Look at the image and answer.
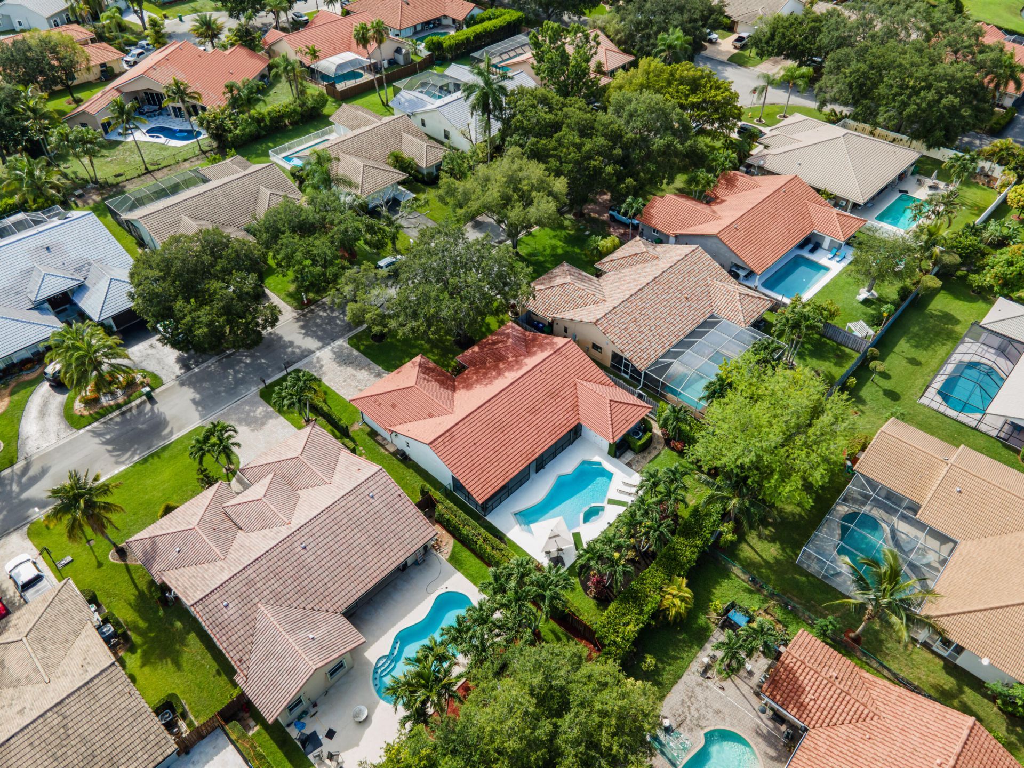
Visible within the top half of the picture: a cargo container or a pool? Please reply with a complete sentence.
It is a pool that can be seen within the top half of the picture.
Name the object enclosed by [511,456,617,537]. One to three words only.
swimming pool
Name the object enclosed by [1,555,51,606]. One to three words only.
truck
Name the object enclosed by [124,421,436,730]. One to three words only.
house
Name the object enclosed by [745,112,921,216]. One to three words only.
house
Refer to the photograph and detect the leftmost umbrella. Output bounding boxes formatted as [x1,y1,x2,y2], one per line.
[530,517,573,572]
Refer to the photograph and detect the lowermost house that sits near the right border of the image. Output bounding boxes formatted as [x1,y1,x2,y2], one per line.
[758,628,1024,768]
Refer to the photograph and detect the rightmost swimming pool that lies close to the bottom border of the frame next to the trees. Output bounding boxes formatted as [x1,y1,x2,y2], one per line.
[674,723,764,768]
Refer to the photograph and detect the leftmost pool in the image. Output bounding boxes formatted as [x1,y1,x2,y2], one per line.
[144,125,203,140]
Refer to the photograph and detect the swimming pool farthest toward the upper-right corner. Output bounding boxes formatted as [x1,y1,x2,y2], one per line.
[872,192,928,230]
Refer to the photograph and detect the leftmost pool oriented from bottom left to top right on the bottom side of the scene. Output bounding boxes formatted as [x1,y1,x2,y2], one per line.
[369,587,472,711]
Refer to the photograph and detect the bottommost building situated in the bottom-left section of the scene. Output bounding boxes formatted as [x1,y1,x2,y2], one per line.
[0,576,178,768]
